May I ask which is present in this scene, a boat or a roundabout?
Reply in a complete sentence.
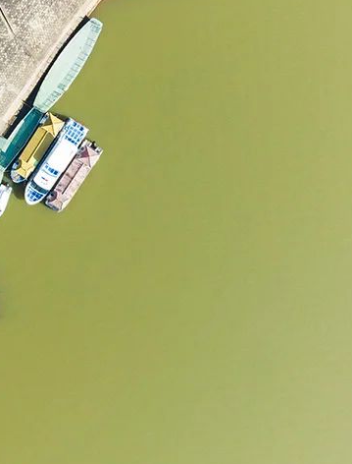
Of the two, only a boat appears.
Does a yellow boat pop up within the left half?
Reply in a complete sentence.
Yes, within the left half there is a yellow boat.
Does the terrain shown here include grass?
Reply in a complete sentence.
No, the scene doesn't show any grass.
